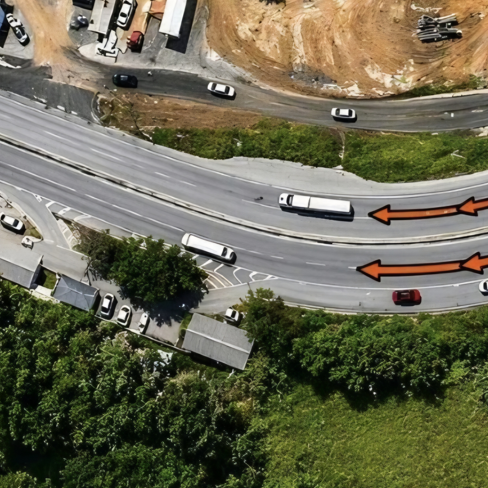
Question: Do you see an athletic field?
No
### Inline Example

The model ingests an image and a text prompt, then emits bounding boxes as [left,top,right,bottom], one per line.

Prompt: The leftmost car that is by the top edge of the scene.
[10,14,31,43]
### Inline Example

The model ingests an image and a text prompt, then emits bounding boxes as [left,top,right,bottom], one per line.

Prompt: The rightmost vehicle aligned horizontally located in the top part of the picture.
[330,108,358,121]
